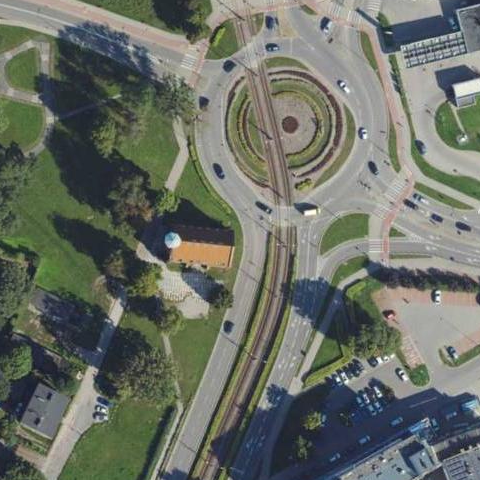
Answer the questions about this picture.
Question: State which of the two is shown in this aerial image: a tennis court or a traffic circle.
traffic circle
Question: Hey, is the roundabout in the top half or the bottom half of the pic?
top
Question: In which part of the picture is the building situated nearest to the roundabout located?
center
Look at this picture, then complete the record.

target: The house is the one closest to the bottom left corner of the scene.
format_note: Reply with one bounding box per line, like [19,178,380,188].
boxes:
[23,384,71,437]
